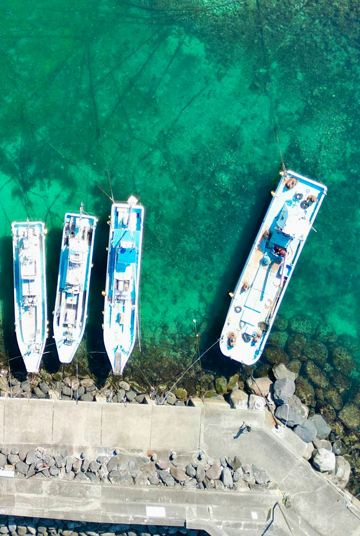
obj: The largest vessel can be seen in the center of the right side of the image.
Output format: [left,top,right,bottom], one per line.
[217,170,327,363]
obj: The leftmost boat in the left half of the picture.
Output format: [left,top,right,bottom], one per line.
[10,217,50,372]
